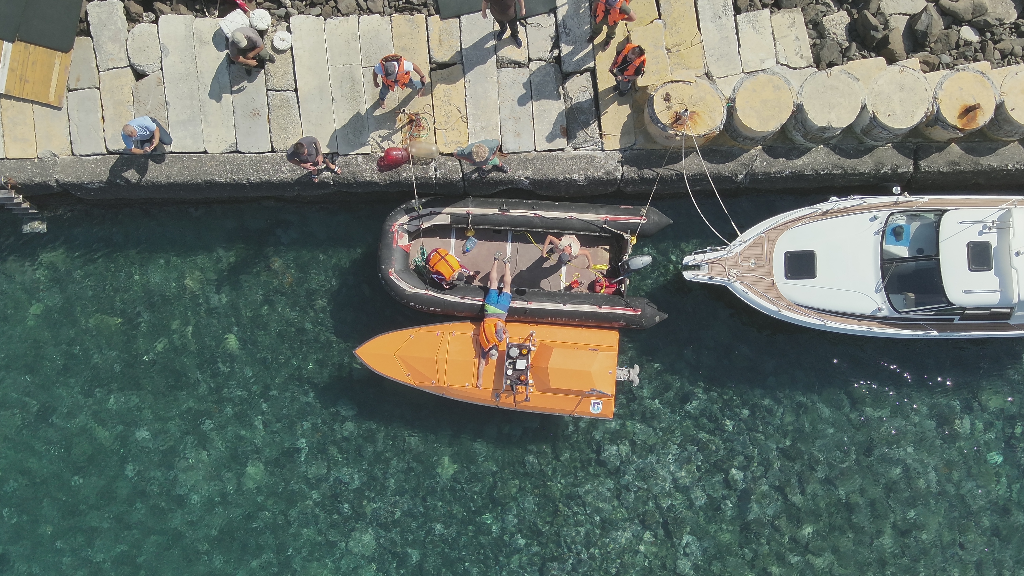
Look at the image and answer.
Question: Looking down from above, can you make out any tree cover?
No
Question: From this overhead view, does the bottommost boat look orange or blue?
orange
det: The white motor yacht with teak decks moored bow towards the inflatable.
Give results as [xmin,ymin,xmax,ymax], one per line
[683,194,1024,342]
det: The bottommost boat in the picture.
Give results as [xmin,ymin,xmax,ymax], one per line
[353,319,640,422]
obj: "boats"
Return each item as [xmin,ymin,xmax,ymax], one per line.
[353,319,640,422]
[378,194,673,330]
[683,194,1024,342]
